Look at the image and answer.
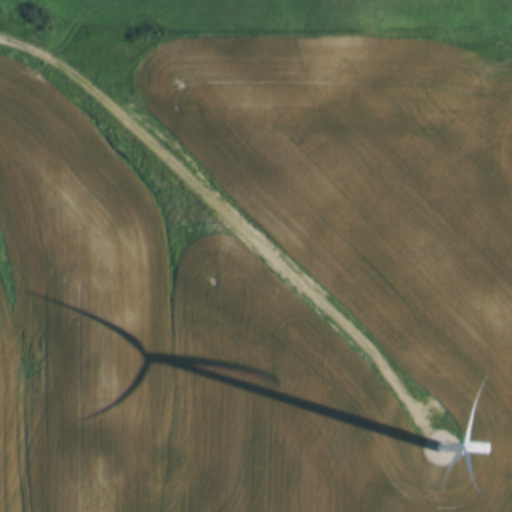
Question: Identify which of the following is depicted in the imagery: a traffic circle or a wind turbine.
wind turbine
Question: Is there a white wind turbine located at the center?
No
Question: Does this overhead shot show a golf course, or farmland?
farmland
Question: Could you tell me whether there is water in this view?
No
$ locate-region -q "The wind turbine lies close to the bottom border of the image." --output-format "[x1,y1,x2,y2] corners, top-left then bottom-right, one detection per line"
[436,384,490,502]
